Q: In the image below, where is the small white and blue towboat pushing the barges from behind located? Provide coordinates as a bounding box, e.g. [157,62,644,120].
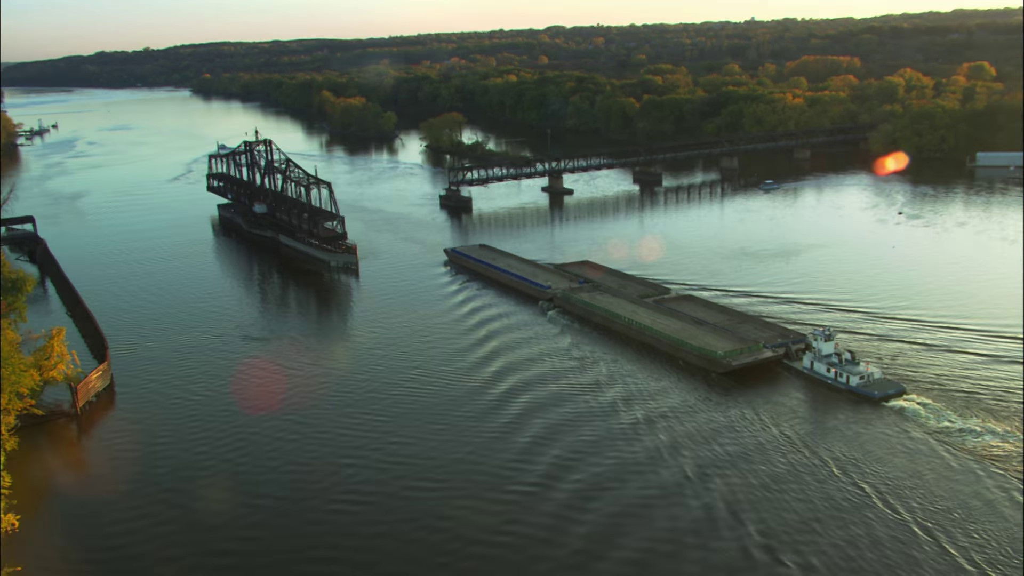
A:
[789,326,904,401]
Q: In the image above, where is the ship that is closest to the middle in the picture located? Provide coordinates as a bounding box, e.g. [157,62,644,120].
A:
[442,243,587,306]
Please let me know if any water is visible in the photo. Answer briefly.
Yes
